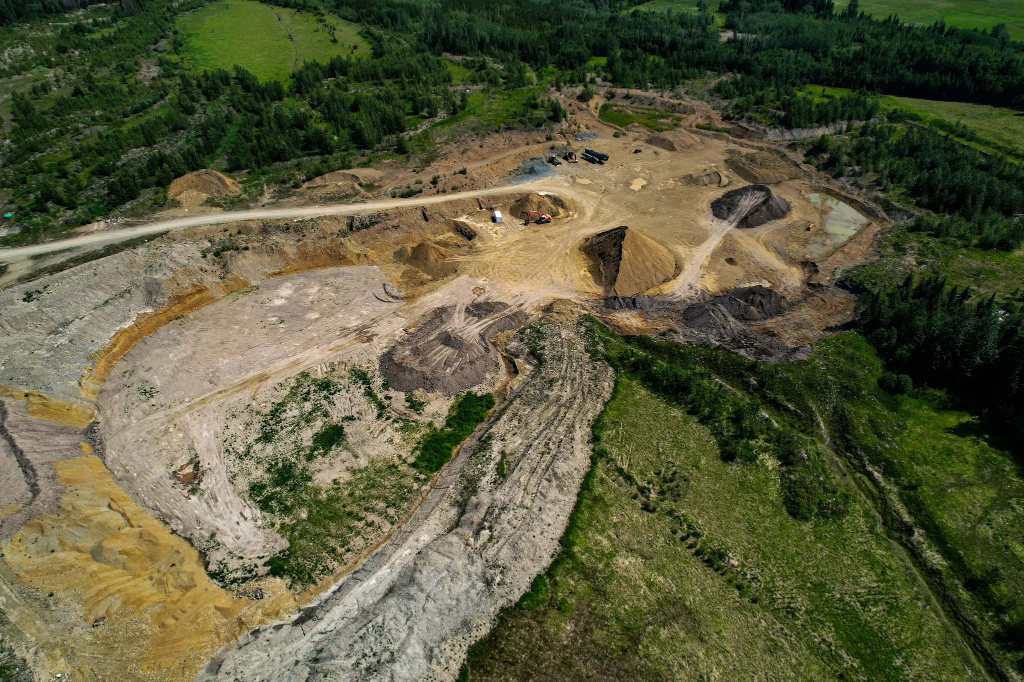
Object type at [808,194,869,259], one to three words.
pond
